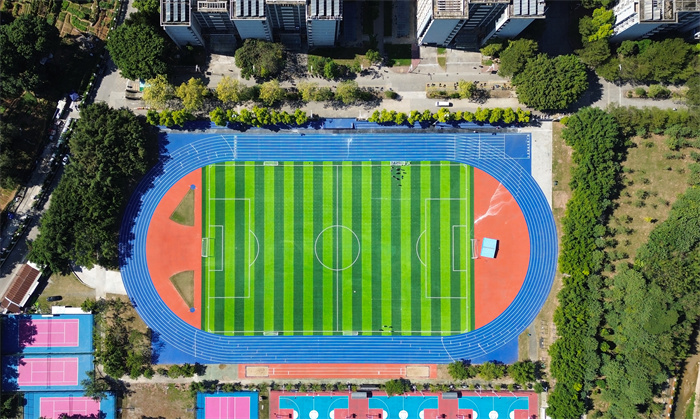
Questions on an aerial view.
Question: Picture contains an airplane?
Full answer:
No, the picture doesn't show any airplane.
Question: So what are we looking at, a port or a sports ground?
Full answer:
What you see here is a sports ground.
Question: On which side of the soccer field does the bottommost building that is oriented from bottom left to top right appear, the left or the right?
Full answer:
The bottommost building that is oriented from bottom left to top right is to the left of the soccer field.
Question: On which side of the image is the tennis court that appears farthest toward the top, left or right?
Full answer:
You can find the tennis court that appears farthest toward the top on the left side of the picture.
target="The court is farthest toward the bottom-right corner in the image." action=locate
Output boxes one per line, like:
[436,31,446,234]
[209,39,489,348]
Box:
[458,396,528,419]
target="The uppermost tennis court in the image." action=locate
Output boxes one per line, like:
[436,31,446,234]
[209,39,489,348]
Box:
[1,314,93,353]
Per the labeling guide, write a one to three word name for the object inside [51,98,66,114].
vehicle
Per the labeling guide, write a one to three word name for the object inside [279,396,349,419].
basketball court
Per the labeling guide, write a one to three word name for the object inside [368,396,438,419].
basketball court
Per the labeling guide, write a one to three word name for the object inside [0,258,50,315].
building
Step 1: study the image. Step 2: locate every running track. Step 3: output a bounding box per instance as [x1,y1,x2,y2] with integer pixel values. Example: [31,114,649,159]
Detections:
[120,133,557,364]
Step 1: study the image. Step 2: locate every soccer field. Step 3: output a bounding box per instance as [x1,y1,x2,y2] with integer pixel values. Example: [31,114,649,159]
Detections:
[202,161,474,336]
